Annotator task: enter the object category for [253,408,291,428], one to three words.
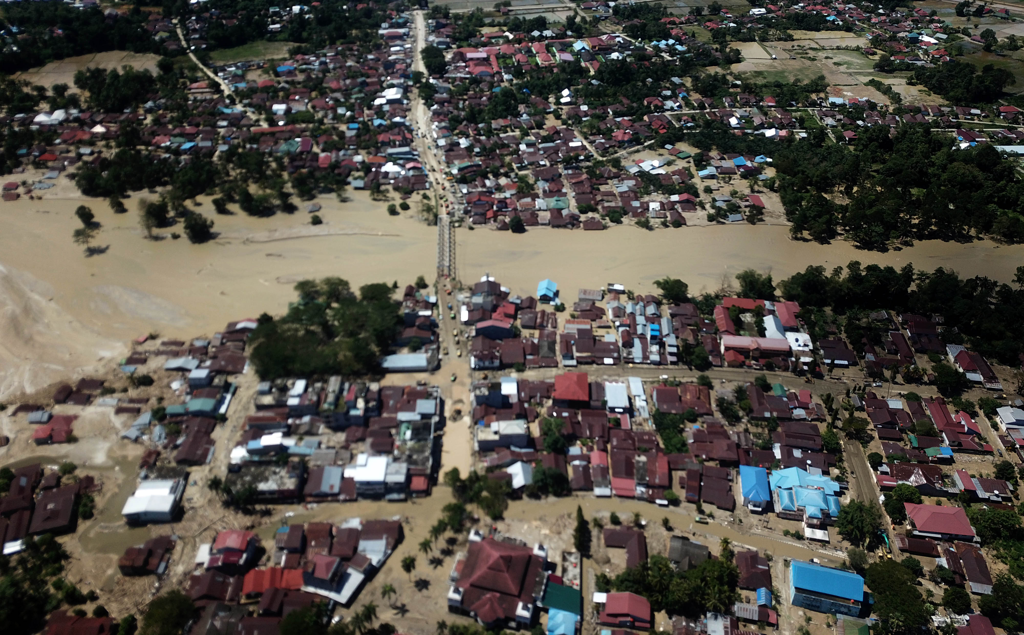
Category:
house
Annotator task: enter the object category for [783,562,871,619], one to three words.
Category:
building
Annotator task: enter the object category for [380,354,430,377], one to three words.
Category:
building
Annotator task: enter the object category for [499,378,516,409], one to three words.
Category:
house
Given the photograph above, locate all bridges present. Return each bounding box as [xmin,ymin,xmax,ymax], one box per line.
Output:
[438,219,453,281]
